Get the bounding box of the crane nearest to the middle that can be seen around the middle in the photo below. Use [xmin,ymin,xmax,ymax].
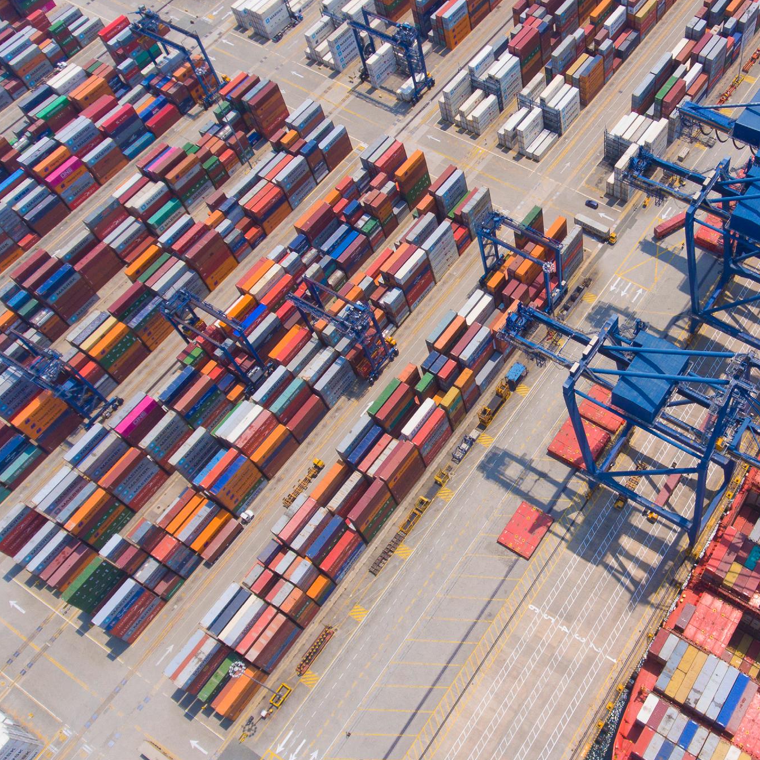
[285,272,396,380]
